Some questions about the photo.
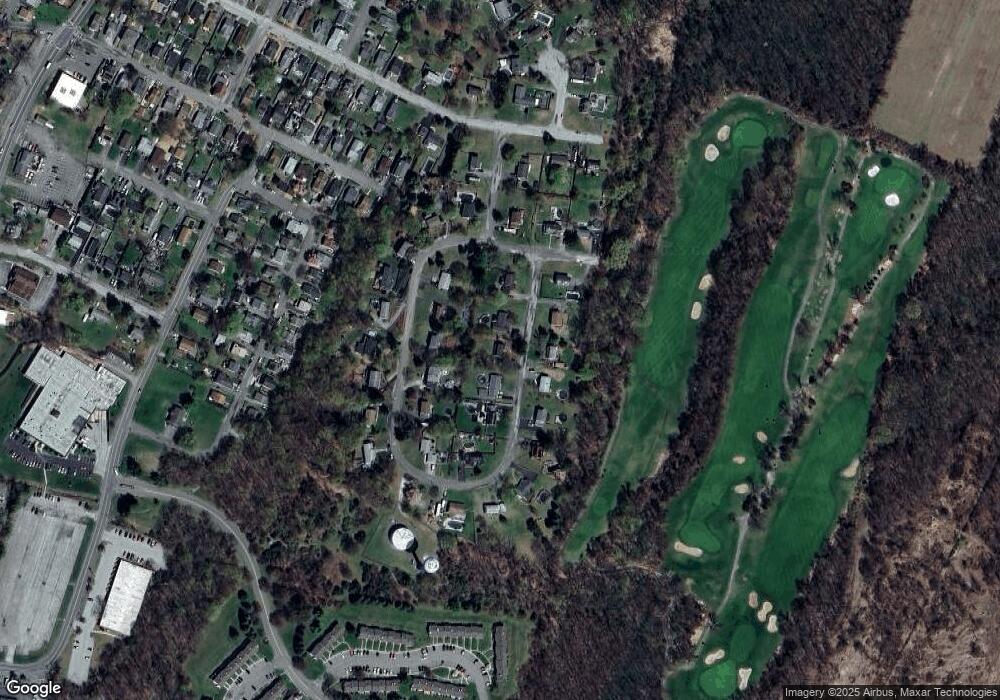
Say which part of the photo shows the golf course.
right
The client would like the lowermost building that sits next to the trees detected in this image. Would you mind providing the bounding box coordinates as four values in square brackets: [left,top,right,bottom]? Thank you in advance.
[98,560,152,637]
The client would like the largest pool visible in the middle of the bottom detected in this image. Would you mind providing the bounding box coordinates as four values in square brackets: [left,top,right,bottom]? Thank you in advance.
[445,516,464,531]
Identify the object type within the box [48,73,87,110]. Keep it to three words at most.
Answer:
building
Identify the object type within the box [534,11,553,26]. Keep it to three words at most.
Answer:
swimming pool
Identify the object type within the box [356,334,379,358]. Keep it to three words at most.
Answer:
house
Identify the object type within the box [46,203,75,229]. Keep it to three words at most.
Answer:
building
